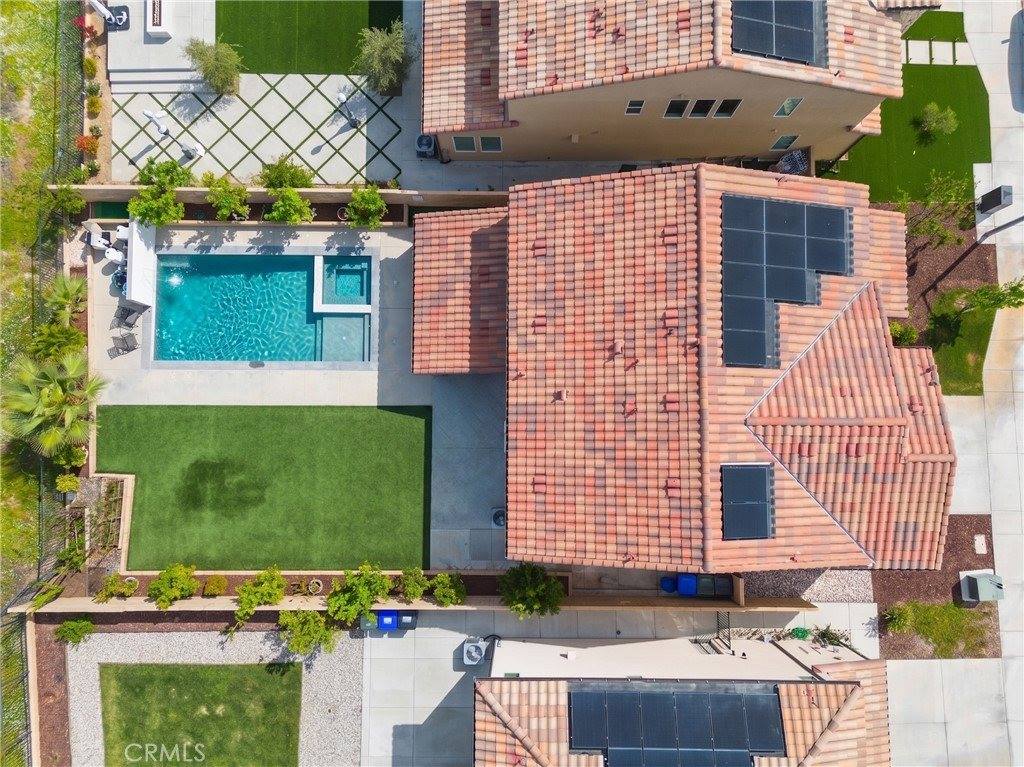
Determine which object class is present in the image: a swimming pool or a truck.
swimming pool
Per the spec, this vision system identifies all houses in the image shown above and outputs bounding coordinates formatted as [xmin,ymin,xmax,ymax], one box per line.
[419,0,946,161]
[473,640,894,767]
[410,163,963,571]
